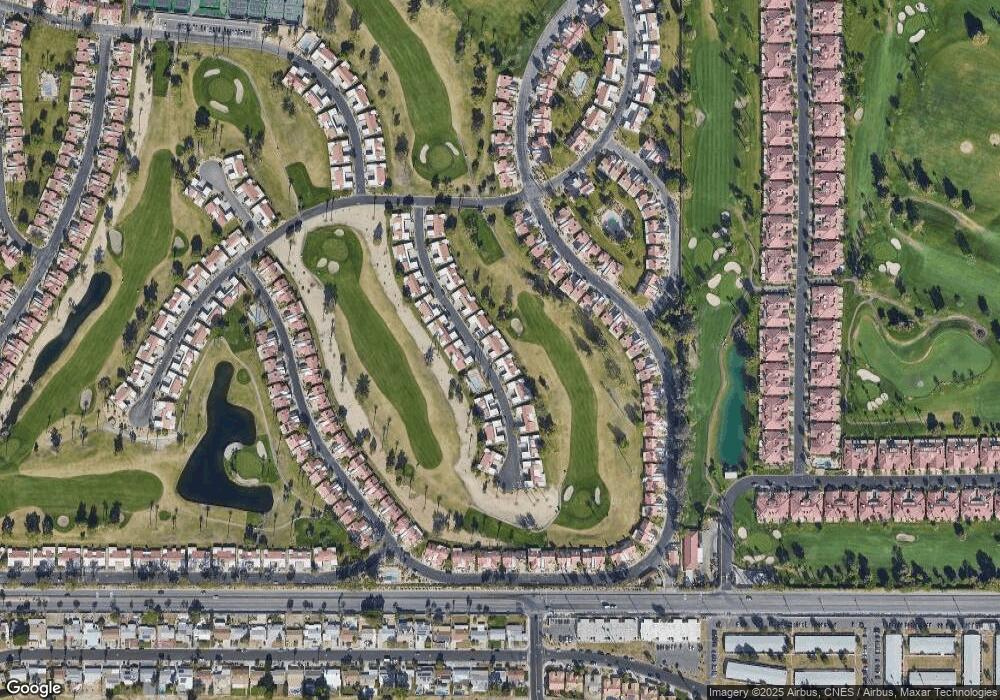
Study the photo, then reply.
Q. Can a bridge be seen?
No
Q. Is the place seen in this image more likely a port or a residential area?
residential area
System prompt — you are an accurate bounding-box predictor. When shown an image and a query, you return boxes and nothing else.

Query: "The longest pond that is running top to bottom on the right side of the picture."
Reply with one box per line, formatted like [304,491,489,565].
[720,340,748,466]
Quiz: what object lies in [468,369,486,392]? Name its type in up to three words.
swimming pool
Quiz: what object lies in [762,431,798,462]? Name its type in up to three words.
house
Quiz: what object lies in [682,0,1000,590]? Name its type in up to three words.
golf course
